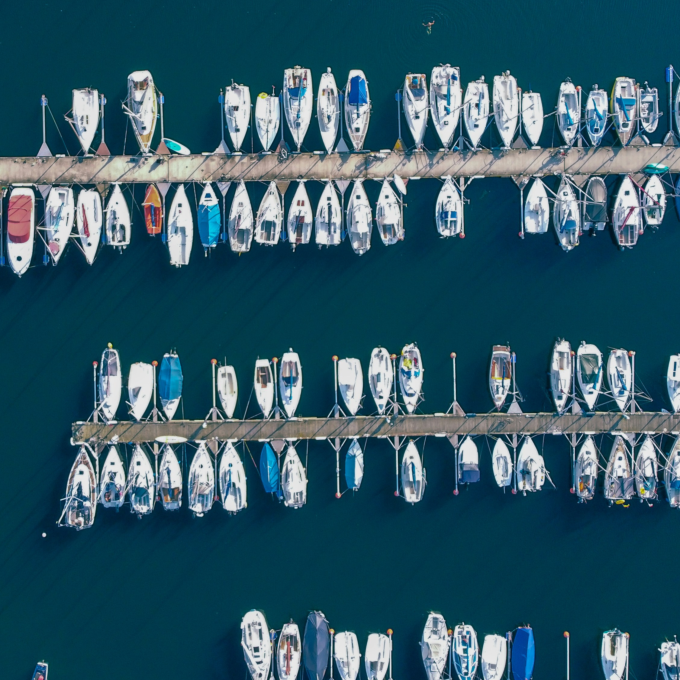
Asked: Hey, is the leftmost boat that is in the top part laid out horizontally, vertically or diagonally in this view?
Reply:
vertically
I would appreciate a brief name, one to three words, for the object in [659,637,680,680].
boat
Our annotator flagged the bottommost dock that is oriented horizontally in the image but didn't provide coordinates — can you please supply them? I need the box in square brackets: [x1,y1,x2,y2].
[72,411,680,446]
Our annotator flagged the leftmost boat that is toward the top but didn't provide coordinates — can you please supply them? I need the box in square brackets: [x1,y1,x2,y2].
[3,185,43,275]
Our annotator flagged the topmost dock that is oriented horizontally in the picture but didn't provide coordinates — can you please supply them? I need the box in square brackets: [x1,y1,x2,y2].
[0,144,680,185]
